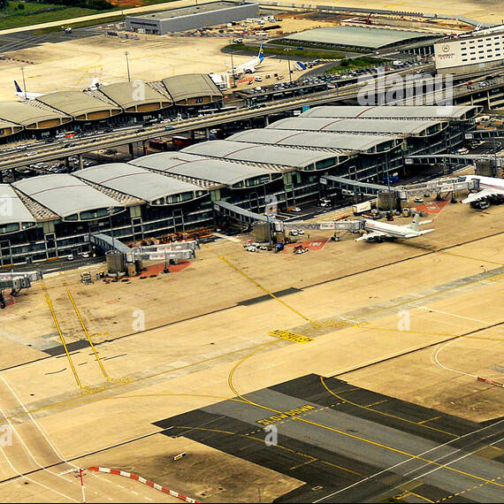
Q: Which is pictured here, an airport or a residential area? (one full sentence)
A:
The picture captures an airport.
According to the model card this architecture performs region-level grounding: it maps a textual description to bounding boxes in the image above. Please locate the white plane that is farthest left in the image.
[10,82,39,101]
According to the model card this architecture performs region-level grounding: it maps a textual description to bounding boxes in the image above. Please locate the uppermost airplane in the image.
[228,46,282,75]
